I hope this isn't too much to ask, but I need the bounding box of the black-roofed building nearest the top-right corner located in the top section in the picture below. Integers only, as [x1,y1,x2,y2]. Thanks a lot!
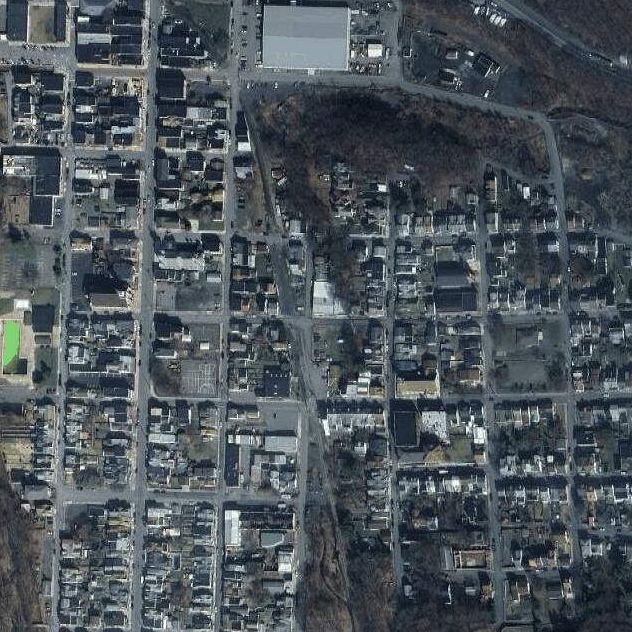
[470,52,498,76]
